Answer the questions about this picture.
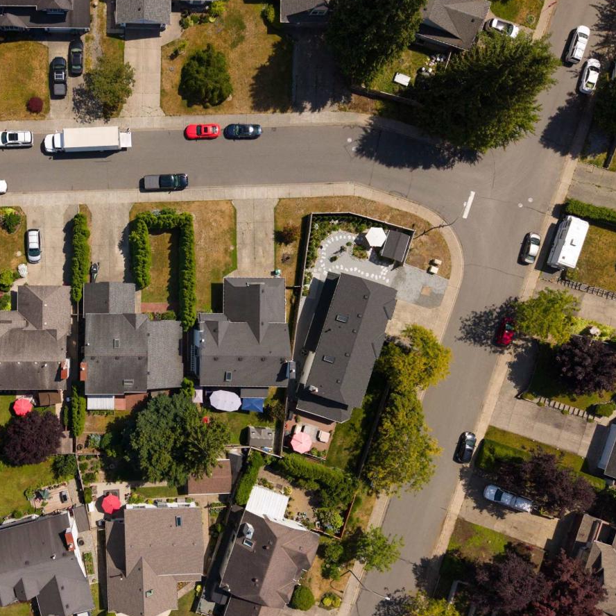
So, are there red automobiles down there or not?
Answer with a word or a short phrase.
Yes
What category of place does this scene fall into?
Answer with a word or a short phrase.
residential area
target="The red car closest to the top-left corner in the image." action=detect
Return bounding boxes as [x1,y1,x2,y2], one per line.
[184,123,219,140]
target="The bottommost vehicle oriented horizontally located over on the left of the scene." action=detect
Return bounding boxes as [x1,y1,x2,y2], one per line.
[144,174,188,191]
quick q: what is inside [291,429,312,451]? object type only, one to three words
umbrella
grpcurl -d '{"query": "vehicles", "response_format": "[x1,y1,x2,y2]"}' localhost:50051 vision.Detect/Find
[184,123,219,140]
[491,315,514,349]
[43,126,132,153]
[544,214,586,269]
[0,181,8,194]
[144,174,188,191]
[92,265,99,280]
[493,17,518,34]
[519,231,541,266]
[577,60,600,95]
[224,123,260,140]
[25,228,41,264]
[50,57,67,100]
[0,130,33,147]
[455,429,476,463]
[563,25,589,68]
[68,41,85,77]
